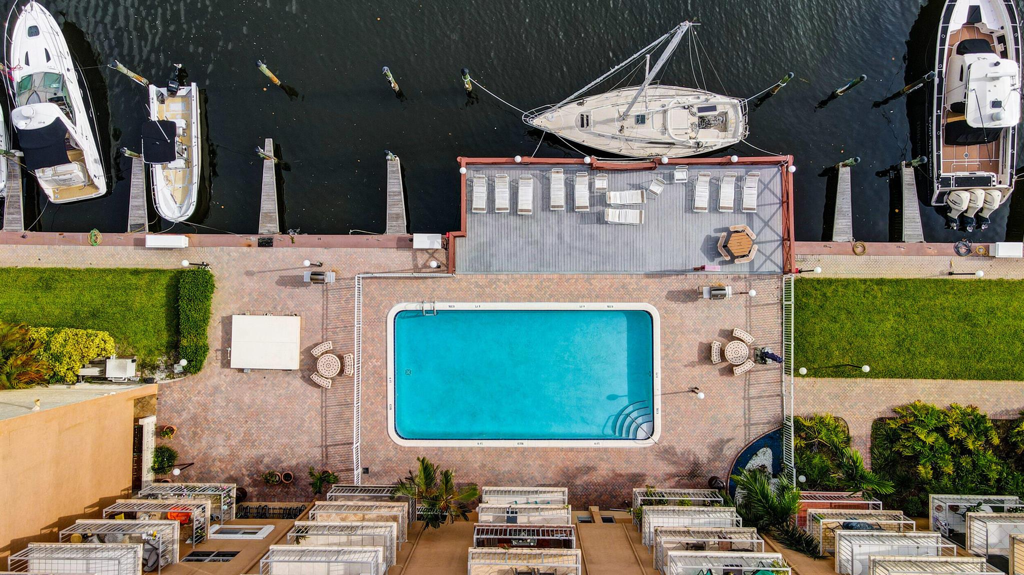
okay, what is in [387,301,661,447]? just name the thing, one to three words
swimming pool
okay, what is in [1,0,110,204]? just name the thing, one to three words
boat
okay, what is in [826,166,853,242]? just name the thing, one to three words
pier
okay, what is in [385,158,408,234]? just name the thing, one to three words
pier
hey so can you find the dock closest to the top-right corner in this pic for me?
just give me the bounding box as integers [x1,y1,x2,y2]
[894,167,925,242]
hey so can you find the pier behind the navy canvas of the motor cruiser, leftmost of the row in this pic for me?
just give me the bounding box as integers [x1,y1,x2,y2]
[2,150,34,231]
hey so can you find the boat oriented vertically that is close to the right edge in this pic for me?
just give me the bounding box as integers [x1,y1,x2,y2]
[923,0,1021,234]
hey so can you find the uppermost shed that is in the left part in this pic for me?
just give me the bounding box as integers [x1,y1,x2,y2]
[225,312,304,371]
